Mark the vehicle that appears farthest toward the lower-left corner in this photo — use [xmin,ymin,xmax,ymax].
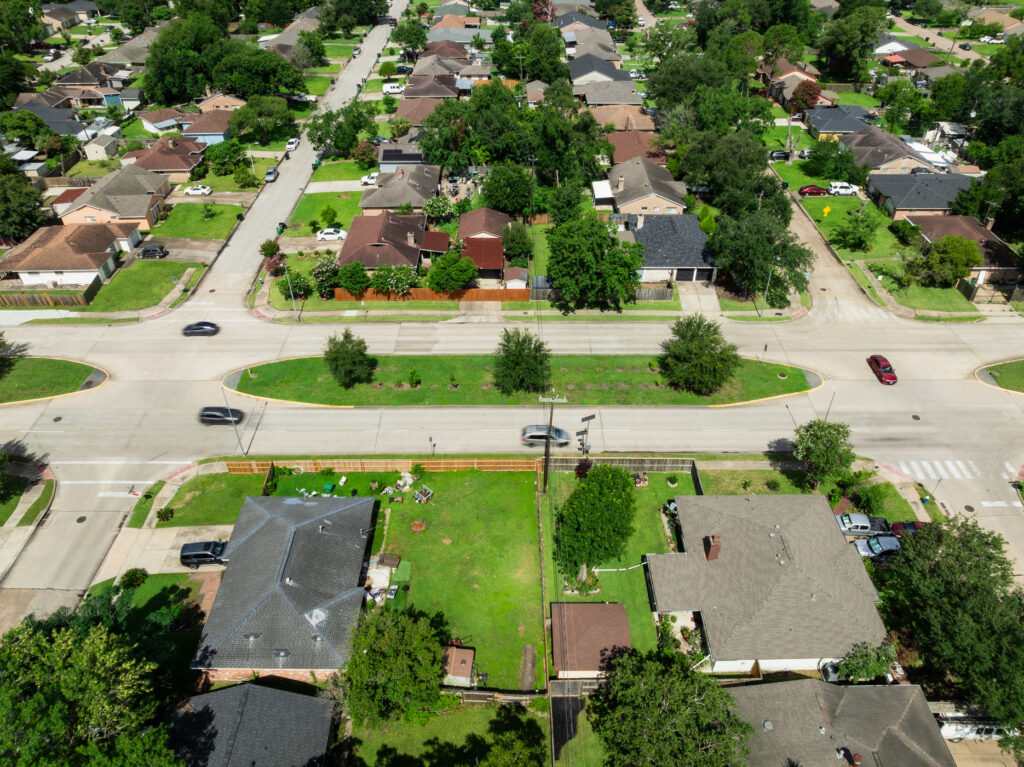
[175,541,232,568]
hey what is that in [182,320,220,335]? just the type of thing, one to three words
car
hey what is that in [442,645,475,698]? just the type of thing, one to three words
shed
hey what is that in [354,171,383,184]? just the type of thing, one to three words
vehicle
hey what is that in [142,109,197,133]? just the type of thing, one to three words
building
